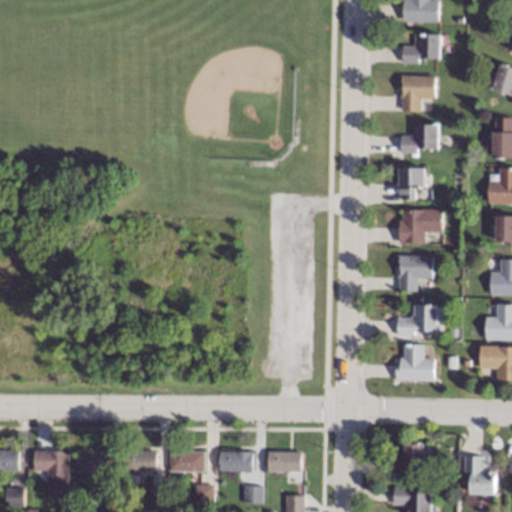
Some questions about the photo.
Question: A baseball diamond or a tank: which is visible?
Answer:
baseball diamond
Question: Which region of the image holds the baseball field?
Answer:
top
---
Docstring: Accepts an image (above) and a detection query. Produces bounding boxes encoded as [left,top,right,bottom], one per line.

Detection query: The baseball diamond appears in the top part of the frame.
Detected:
[186,46,284,150]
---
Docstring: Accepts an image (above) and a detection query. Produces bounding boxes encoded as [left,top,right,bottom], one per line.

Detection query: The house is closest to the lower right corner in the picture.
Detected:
[466,456,496,497]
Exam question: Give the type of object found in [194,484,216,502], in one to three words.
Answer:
building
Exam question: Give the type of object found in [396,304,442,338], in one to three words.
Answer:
house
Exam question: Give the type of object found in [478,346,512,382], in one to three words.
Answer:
house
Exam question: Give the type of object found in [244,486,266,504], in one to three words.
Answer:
building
